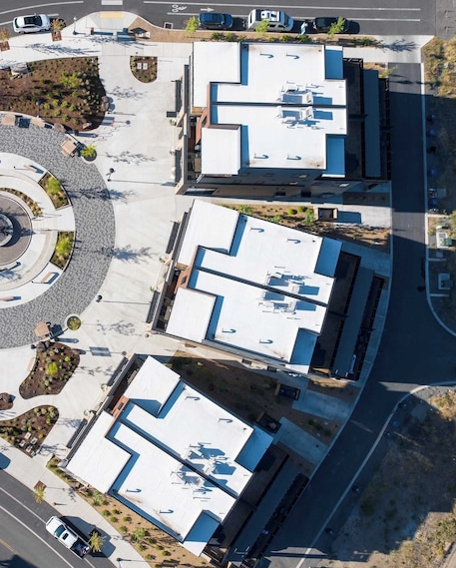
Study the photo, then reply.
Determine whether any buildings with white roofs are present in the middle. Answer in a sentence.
Yes, a building with a white roof can be seen in the middle.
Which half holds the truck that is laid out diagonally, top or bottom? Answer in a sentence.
The truck that is laid out diagonally is in the bottom half of the image.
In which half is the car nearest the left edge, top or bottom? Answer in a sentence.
You can find the car nearest the left edge in the top half.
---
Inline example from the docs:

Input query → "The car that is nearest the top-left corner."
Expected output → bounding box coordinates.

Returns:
[11,12,51,34]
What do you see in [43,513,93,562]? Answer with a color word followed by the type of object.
white truck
